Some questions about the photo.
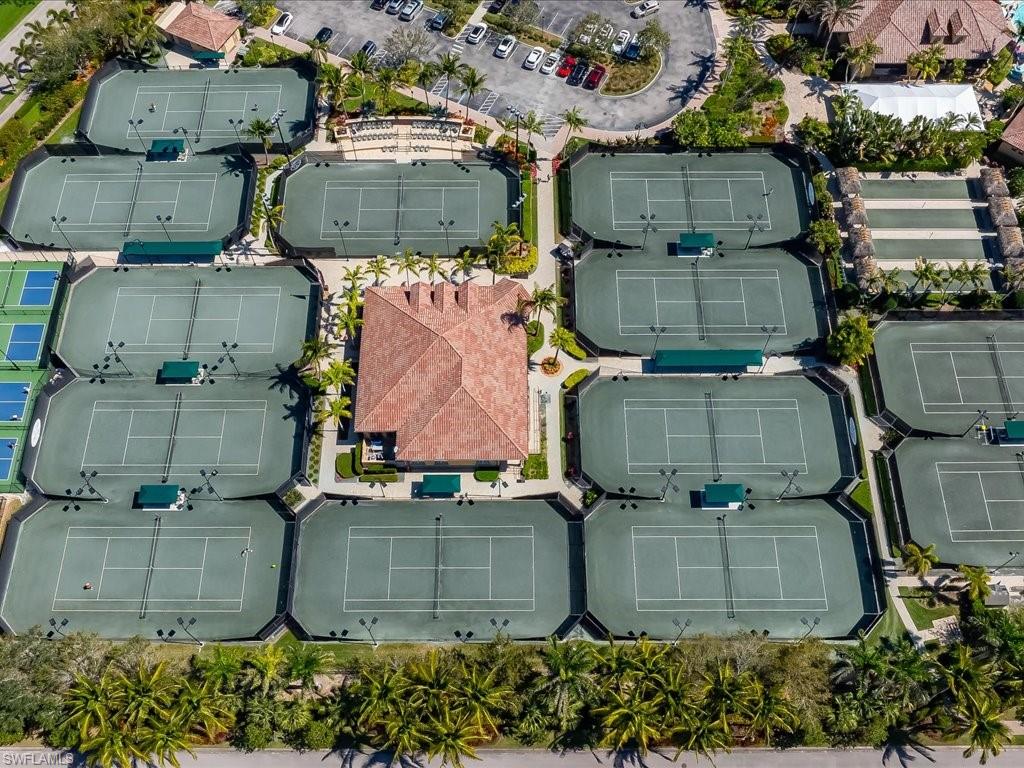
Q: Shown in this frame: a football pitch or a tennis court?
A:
tennis court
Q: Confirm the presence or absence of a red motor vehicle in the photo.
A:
Yes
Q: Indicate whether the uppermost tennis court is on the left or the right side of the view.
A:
left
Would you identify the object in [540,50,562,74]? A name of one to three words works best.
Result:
car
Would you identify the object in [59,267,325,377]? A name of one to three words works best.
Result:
tennis court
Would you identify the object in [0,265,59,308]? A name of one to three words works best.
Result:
sports court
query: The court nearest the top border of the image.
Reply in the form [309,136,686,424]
[86,68,322,156]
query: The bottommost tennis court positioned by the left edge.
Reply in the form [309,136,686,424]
[0,500,301,641]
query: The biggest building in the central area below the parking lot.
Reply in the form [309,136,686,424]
[354,275,528,464]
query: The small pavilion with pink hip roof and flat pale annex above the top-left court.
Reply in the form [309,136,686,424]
[156,1,239,55]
